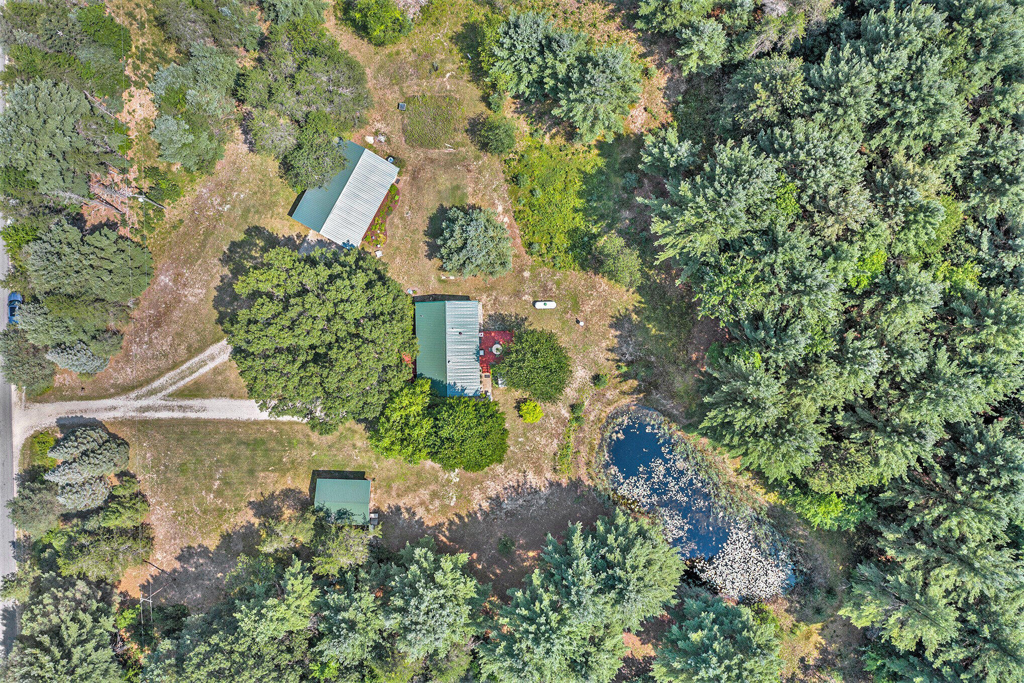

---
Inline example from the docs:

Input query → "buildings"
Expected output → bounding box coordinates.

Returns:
[314,477,372,525]
[414,300,480,398]
[291,134,400,253]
